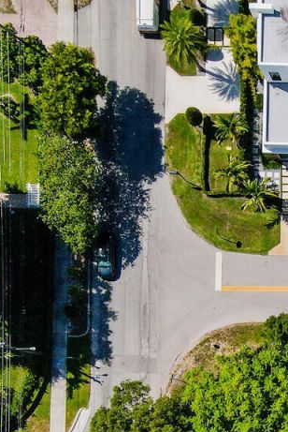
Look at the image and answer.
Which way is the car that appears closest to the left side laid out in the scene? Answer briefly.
up and down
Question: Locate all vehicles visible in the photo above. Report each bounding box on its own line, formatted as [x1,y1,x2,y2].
[128,0,157,32]
[97,232,119,279]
